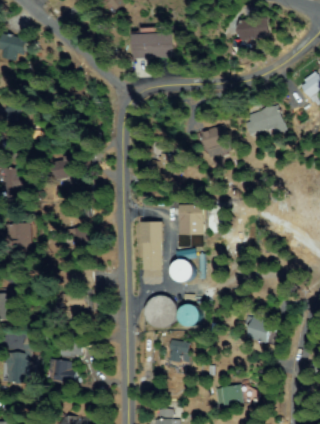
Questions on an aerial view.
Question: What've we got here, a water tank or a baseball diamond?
water tank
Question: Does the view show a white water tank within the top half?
No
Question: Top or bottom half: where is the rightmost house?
top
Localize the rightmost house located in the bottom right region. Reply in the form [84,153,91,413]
[246,314,276,342]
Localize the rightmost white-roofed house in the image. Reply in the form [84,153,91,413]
[300,72,320,106]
